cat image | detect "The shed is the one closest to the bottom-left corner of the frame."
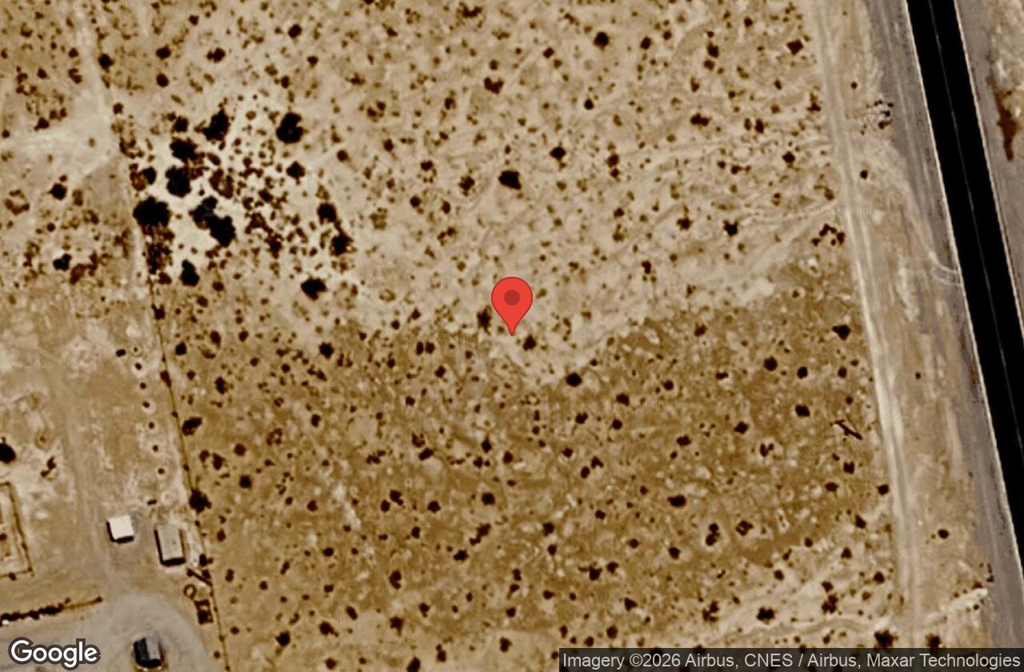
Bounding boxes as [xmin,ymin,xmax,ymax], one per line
[133,637,165,664]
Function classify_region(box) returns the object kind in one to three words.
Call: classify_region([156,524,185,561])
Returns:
shed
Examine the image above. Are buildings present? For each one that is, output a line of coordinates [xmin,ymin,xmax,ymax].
[156,524,185,561]
[133,637,165,664]
[107,515,134,540]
